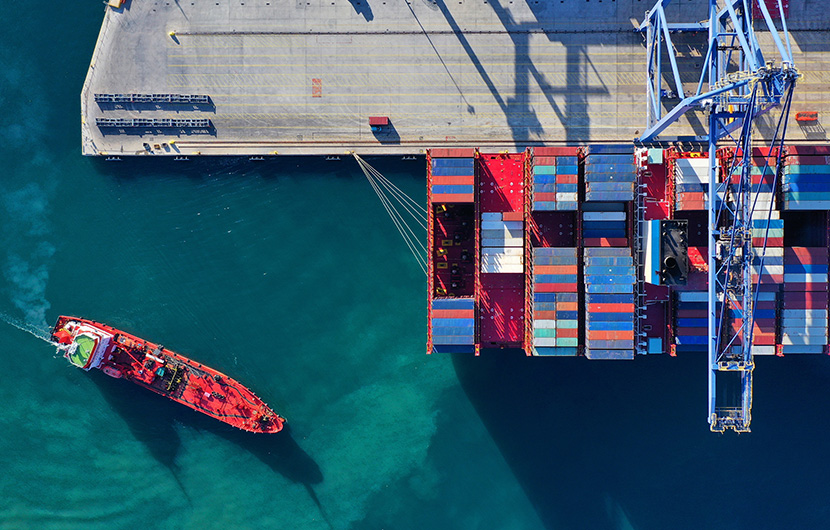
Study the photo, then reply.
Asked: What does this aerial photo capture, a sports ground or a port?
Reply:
port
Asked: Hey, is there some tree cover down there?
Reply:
No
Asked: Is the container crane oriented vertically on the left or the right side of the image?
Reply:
right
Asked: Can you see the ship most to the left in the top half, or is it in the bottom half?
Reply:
bottom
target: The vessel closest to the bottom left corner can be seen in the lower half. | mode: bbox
[49,314,291,432]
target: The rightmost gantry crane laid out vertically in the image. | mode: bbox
[630,0,809,434]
